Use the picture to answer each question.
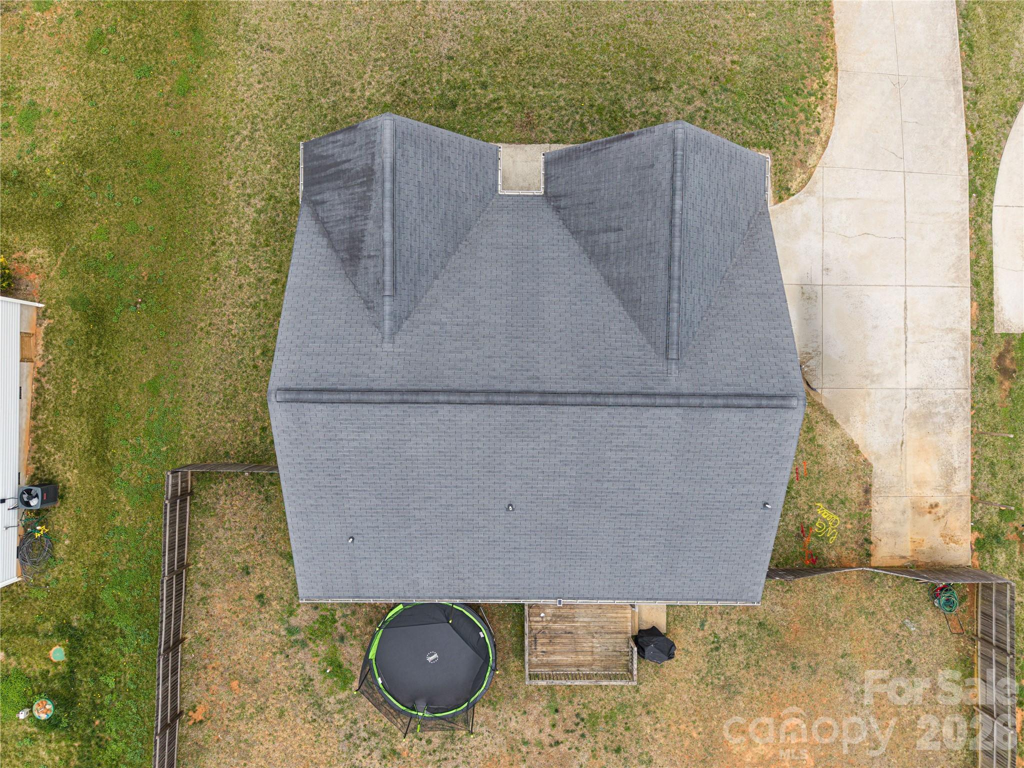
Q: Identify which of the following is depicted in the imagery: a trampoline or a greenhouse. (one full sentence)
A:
This aerial view contains a trampoline.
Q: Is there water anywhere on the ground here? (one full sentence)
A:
No, water can't be seen anywhere here.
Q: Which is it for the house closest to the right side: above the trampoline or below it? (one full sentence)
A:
Looking at the photo, you'll find the house closest to the right side above the trampoline.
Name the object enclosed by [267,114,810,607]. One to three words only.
house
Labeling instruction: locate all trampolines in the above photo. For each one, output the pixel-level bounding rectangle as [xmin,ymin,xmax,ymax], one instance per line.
[354,603,499,741]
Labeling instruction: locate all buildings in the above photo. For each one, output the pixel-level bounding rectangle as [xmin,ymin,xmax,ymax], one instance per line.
[267,114,810,607]
[0,298,46,588]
